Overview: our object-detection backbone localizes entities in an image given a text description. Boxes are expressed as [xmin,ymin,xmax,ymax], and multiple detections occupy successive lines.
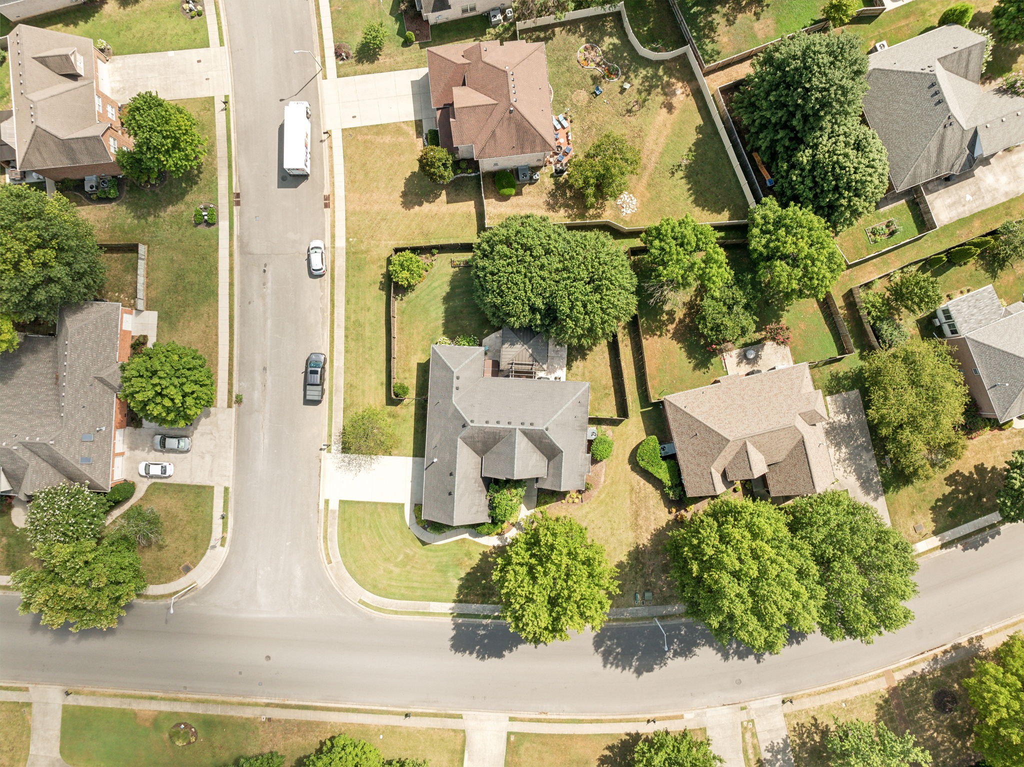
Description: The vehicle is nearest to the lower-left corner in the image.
[138,461,175,479]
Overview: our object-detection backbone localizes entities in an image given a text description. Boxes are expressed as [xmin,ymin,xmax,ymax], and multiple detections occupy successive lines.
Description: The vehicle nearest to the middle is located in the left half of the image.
[305,352,327,400]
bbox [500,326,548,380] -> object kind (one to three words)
building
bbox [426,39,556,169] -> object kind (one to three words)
house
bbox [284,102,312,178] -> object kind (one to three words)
truck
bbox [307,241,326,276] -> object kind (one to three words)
car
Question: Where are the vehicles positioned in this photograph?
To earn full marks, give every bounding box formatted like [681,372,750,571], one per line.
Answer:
[307,241,326,276]
[305,352,327,400]
[138,461,175,479]
[284,102,312,178]
[152,434,192,452]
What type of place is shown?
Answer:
residential area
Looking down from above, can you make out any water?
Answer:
No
